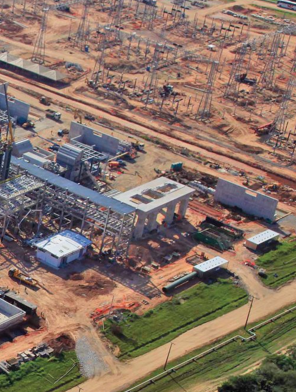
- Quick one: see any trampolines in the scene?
No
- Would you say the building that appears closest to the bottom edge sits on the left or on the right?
right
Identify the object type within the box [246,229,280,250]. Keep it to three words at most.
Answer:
building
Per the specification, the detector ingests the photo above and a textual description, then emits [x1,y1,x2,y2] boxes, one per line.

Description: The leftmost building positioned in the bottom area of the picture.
[33,231,92,269]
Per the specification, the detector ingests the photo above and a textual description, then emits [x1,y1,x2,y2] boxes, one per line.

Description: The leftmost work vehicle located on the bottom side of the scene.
[14,271,38,288]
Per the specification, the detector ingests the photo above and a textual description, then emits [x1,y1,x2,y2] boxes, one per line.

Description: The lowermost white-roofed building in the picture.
[193,257,228,278]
